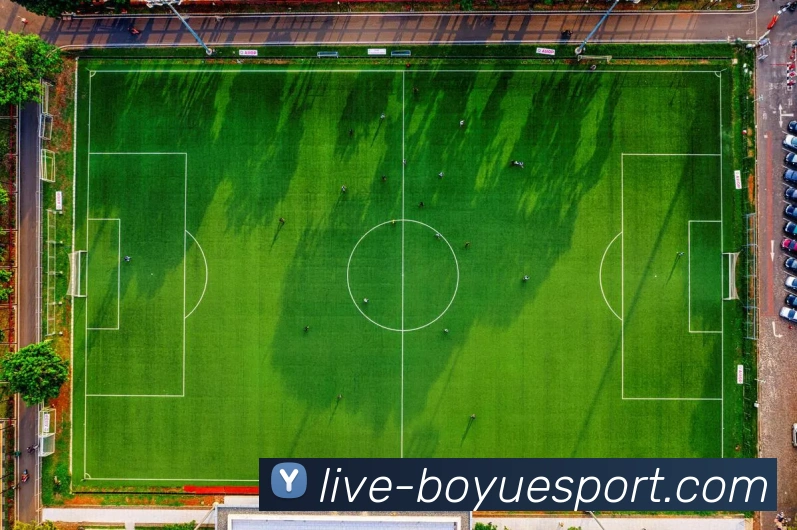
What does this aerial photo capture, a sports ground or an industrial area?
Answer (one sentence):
The picture captures a sports ground.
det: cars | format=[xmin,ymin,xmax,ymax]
[783,204,797,218]
[782,257,797,271]
[783,293,797,307]
[782,153,797,167]
[778,238,797,254]
[781,170,797,184]
[782,187,797,202]
[783,276,797,290]
[786,119,797,132]
[778,307,797,324]
[781,136,797,151]
[782,221,797,235]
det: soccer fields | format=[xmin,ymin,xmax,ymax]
[73,58,740,493]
